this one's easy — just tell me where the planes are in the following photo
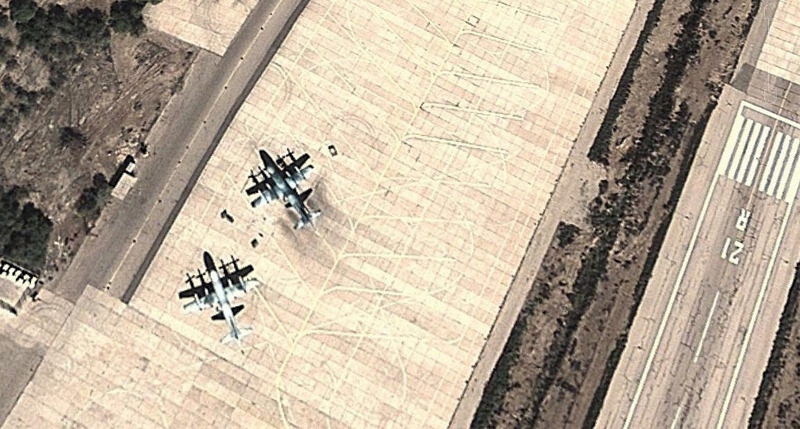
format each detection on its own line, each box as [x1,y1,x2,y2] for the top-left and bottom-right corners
[183,266,260,341]
[250,161,318,228]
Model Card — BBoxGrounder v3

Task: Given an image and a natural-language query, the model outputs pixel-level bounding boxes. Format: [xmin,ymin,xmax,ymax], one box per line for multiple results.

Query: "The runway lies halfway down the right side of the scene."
[594,70,800,429]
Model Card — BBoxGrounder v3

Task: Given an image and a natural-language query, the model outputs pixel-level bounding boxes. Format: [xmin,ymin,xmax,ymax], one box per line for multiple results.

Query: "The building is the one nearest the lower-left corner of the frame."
[0,262,36,306]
